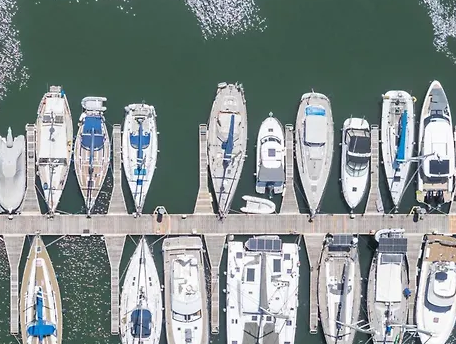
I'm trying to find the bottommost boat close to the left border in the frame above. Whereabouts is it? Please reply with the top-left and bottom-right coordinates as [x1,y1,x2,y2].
[15,232,66,344]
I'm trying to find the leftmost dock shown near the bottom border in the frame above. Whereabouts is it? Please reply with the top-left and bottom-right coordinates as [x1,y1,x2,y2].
[3,234,26,336]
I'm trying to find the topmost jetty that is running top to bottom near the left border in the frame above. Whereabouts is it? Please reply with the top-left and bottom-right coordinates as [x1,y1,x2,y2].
[21,124,40,214]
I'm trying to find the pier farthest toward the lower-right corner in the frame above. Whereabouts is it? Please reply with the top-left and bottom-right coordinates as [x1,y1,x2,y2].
[403,234,425,336]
